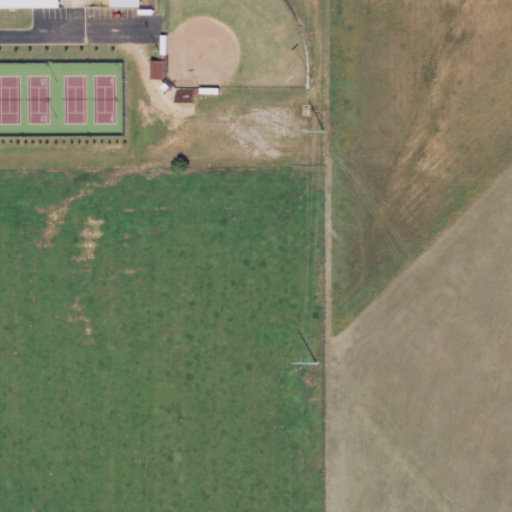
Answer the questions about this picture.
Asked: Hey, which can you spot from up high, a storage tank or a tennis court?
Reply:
tennis court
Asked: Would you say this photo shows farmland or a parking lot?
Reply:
farmland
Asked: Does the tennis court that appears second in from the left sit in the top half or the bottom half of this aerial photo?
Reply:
top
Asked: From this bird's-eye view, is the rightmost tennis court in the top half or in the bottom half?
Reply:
top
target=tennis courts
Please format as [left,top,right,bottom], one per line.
[0,76,20,124]
[24,76,50,124]
[62,76,87,124]
[91,76,116,124]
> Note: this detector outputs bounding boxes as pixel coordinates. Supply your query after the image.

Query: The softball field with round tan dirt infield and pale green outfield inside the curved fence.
[167,0,310,88]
